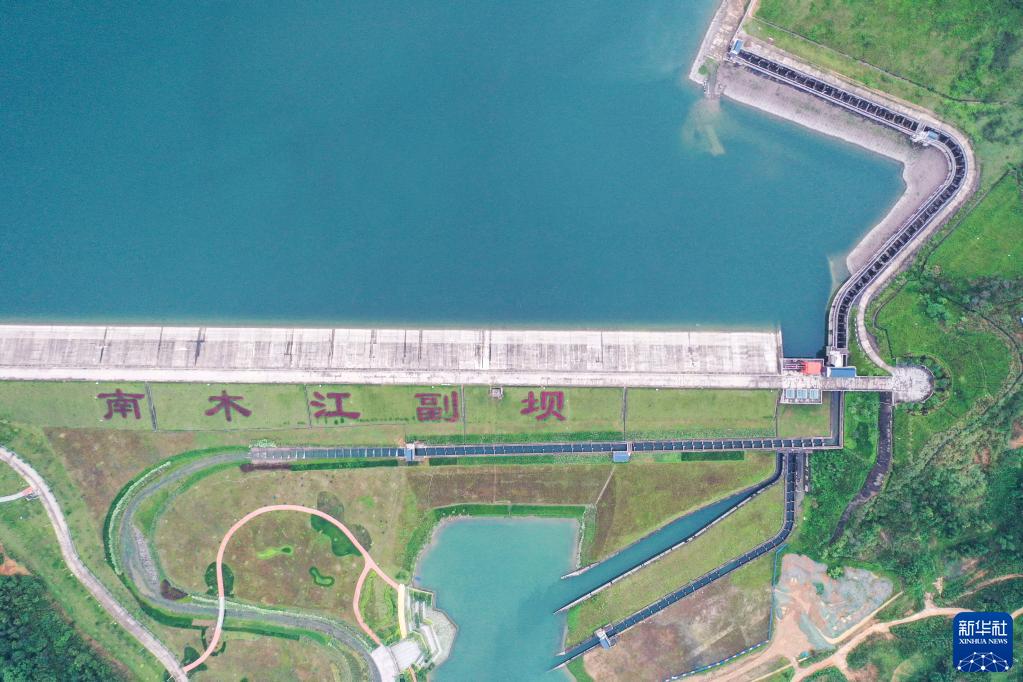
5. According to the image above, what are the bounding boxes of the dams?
[0,325,894,439]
